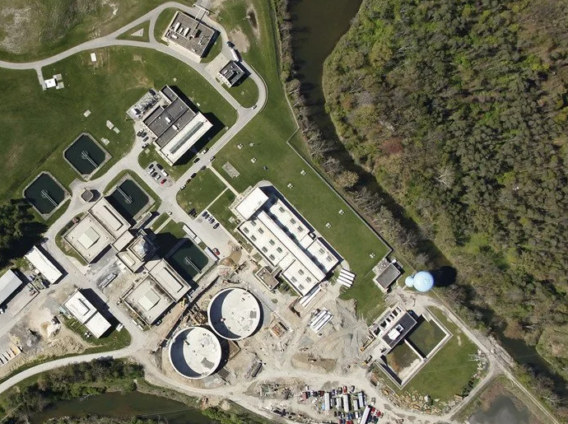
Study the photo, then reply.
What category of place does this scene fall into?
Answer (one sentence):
This looks like an industrial area.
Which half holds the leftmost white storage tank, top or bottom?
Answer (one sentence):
It is in the bottom half that the leftmost white storage tank appears.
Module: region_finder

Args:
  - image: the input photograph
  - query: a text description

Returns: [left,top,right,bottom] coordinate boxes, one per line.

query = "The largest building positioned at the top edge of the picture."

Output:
[161,10,215,64]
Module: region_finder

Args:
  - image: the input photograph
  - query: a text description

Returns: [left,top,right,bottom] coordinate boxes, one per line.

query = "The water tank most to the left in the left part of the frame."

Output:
[22,172,71,220]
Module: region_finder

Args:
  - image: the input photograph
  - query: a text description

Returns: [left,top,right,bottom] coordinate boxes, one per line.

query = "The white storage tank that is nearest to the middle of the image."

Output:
[207,286,263,340]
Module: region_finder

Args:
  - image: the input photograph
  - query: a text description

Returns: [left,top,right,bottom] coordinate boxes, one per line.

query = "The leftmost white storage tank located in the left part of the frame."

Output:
[168,326,223,379]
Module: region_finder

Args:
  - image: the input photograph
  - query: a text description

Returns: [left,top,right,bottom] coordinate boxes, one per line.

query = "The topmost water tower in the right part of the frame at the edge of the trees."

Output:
[404,272,434,292]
